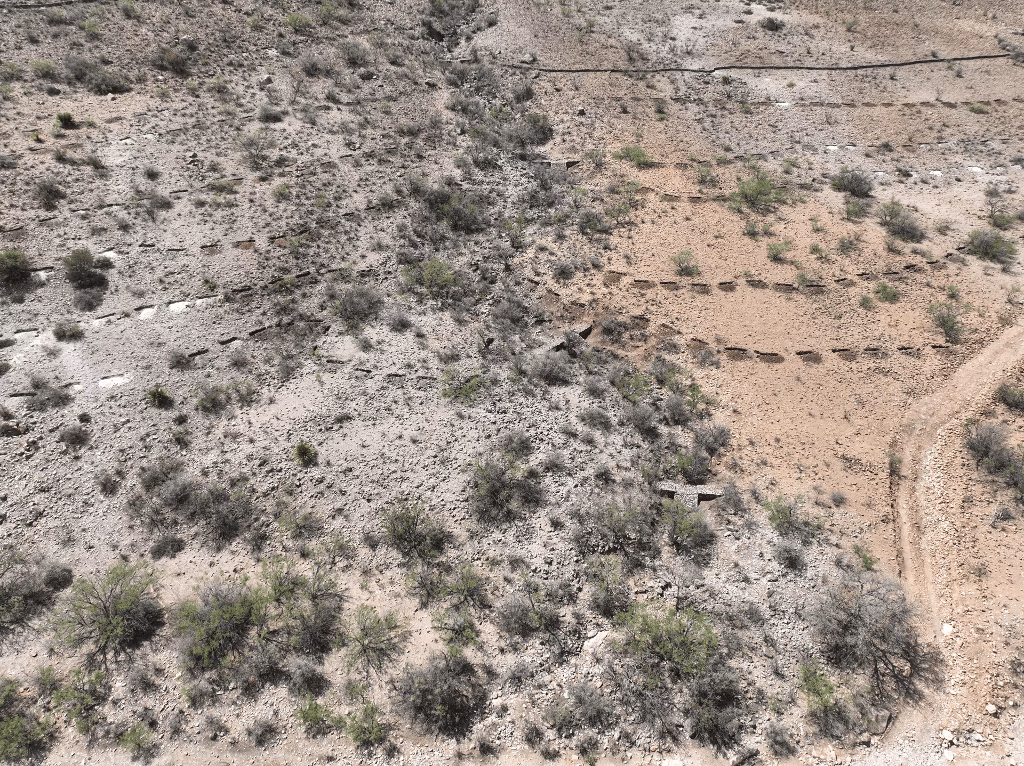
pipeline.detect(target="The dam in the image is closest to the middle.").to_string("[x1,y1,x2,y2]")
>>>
[540,324,592,362]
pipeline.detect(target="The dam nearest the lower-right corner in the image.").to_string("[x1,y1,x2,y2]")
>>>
[656,482,724,516]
